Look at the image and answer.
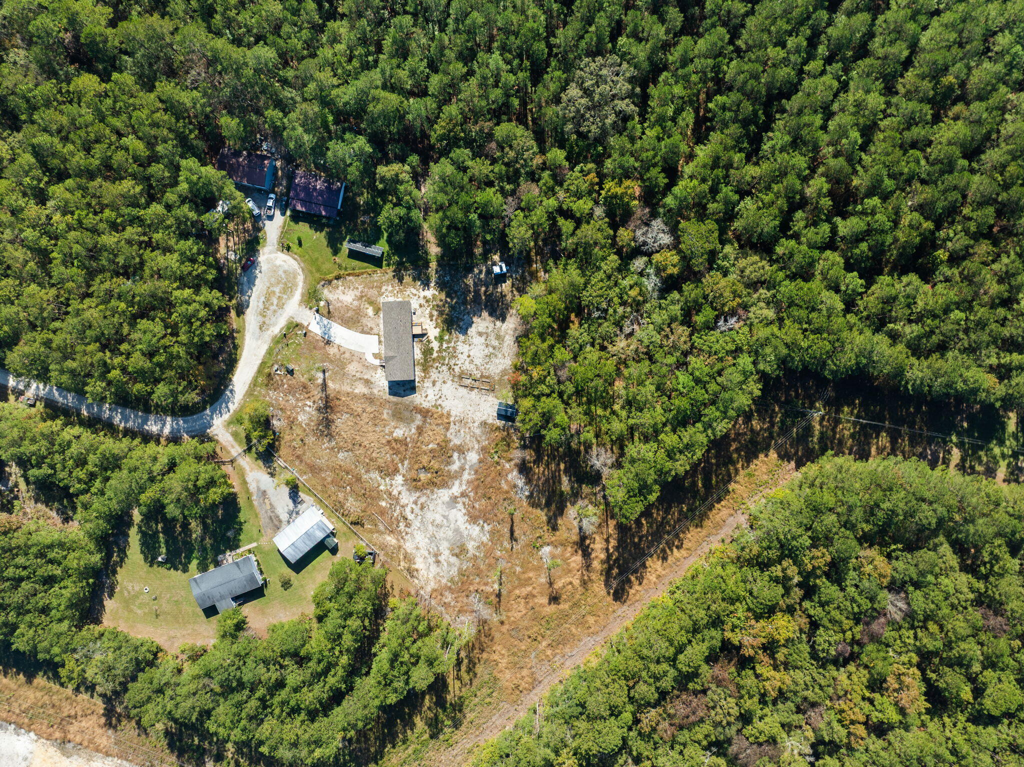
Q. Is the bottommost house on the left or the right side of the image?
left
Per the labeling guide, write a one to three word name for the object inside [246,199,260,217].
car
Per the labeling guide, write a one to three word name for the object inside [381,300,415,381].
house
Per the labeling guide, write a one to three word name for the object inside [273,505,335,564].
barn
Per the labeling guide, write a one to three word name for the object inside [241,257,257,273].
car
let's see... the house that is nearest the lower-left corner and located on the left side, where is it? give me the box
[189,555,261,609]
